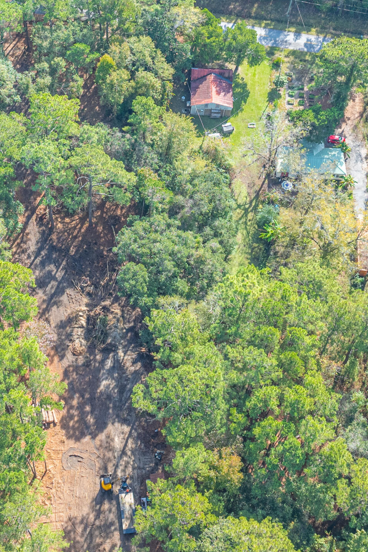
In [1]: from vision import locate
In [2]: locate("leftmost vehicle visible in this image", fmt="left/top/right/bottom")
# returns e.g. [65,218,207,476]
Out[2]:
[100,472,125,493]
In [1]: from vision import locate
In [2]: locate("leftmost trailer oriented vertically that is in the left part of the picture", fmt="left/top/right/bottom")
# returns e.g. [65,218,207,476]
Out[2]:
[118,480,137,534]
